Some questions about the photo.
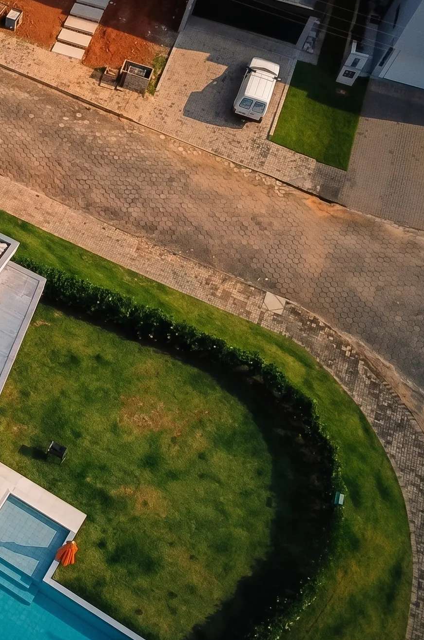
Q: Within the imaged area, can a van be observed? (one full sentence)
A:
Yes, there's a van down there.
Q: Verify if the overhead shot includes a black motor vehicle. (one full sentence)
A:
No, I find no black motor vehicle anywhere in the image.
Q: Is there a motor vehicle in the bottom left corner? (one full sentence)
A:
No, the scene shows no motor vehicle in the bottom left corner.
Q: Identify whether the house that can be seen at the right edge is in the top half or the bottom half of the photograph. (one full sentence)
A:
Seen from above, the house that can be seen at the right edge lies in the top half of the view.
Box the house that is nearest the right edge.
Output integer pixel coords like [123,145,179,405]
[371,0,424,90]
